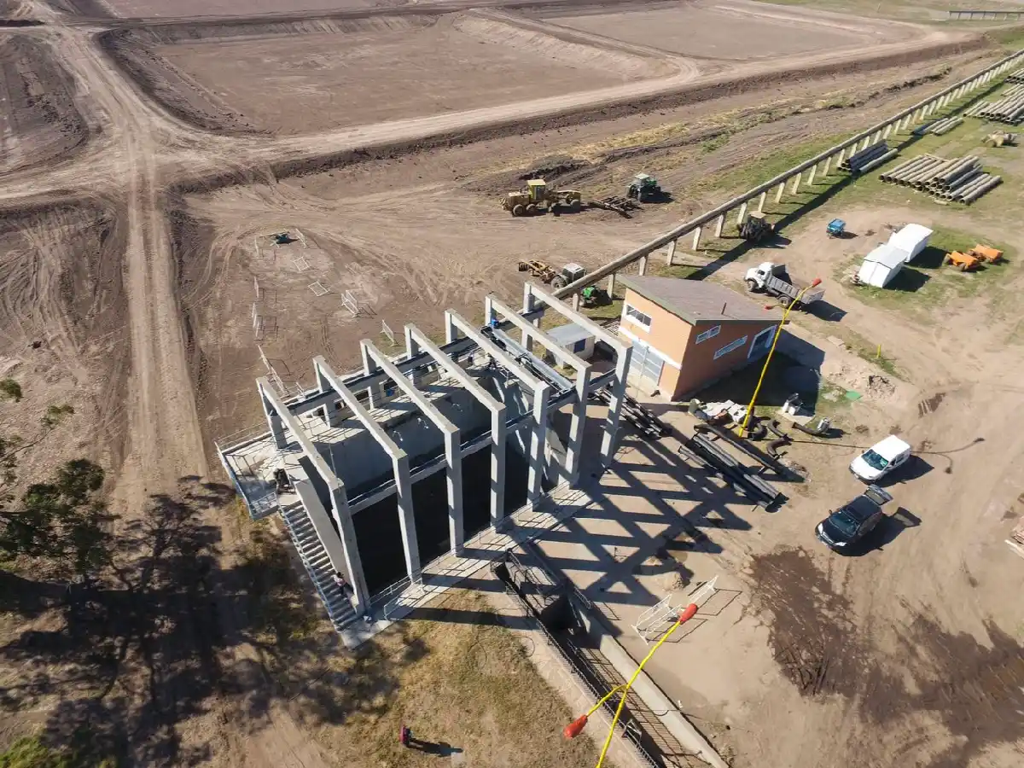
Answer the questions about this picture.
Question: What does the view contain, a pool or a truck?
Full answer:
The one in the frame is a truck.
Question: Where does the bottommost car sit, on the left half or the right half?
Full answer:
It is on the right.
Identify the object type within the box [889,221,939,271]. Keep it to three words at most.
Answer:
shed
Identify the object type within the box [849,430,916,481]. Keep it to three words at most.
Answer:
van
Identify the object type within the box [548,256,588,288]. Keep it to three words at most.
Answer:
work vehicle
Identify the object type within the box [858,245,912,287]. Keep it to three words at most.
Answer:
shed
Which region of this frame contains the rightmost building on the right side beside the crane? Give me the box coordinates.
[614,275,785,402]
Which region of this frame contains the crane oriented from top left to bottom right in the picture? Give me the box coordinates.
[470,315,585,404]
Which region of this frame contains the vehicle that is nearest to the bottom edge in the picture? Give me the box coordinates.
[816,475,898,550]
